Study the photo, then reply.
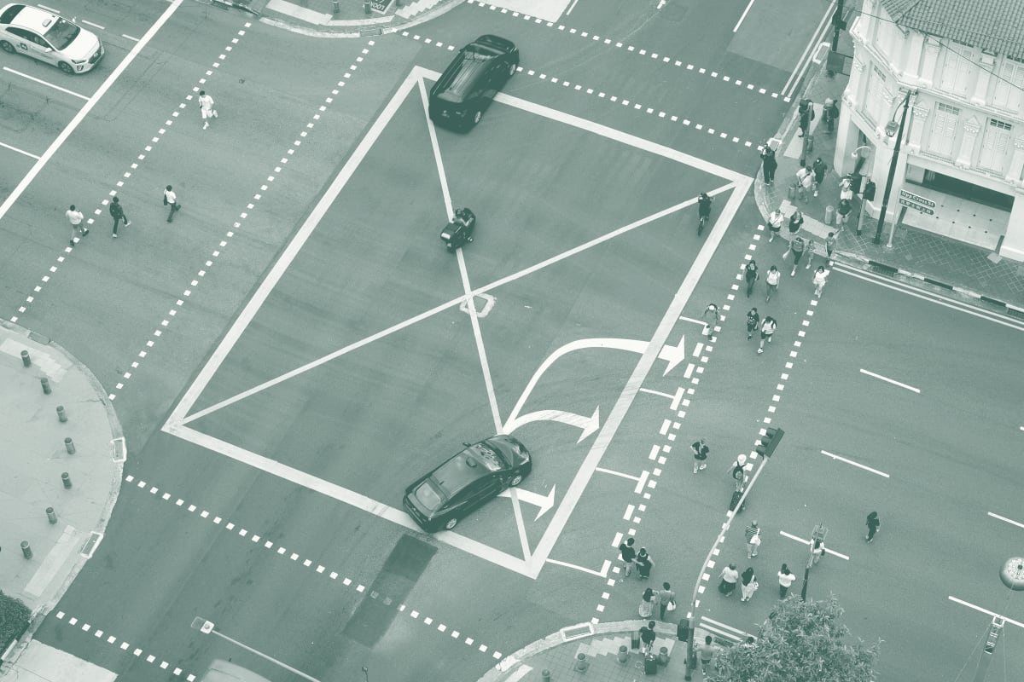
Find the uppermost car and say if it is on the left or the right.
left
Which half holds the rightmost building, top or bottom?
top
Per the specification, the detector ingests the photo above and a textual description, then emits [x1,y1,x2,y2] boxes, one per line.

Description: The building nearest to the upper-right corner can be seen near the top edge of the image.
[835,0,1024,258]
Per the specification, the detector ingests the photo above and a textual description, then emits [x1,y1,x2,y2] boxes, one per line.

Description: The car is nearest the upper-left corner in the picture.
[0,3,104,73]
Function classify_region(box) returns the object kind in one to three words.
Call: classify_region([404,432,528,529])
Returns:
car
